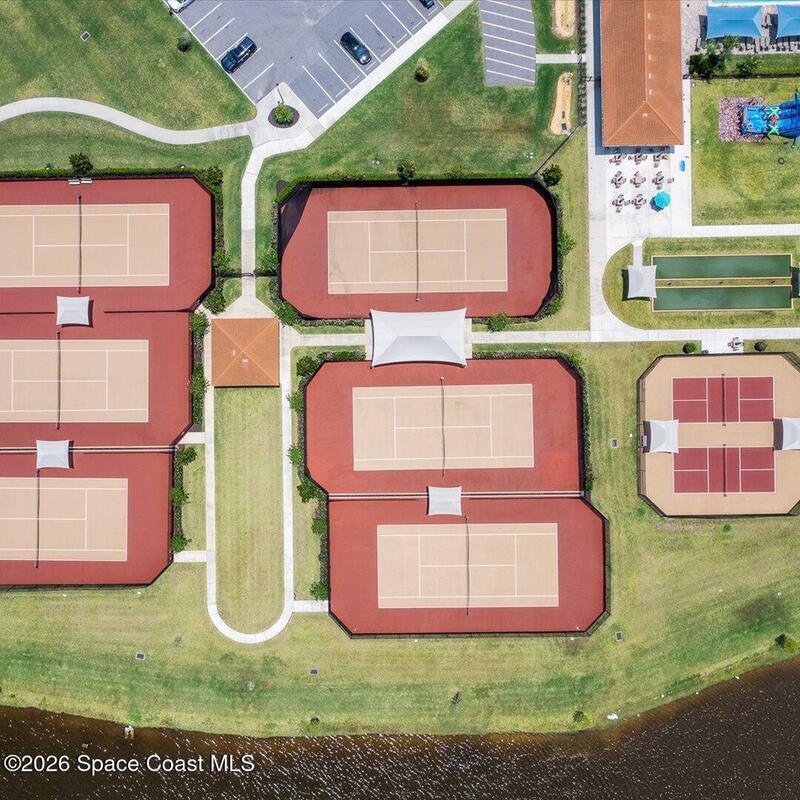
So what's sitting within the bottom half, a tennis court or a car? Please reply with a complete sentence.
What appears within the bottom half is a tennis court.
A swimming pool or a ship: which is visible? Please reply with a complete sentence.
Looking from above, you can make out a swimming pool.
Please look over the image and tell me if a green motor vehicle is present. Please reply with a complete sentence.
No, no green motor vehicle is visible in the view.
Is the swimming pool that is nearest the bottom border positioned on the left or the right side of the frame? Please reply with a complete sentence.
The swimming pool that is nearest the bottom border is on the right side of the image.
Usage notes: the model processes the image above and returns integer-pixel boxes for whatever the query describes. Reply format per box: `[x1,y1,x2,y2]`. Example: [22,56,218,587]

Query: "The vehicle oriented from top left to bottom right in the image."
[340,29,371,63]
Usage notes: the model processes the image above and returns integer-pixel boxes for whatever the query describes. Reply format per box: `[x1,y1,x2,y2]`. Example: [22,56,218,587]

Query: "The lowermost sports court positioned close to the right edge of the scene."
[673,445,776,496]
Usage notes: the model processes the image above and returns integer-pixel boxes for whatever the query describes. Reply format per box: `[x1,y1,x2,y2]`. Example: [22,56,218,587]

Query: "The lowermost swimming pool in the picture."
[738,104,769,136]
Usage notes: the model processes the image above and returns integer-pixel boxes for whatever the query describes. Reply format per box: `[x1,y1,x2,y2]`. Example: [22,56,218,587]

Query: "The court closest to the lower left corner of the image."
[0,451,170,586]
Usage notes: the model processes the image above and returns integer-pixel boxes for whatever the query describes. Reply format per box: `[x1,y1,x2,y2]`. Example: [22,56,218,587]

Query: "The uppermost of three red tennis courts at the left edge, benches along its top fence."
[0,178,214,311]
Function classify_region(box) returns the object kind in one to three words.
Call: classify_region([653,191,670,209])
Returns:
umbrella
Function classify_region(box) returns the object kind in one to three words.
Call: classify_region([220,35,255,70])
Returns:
car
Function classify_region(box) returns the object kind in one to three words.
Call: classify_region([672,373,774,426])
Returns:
sports court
